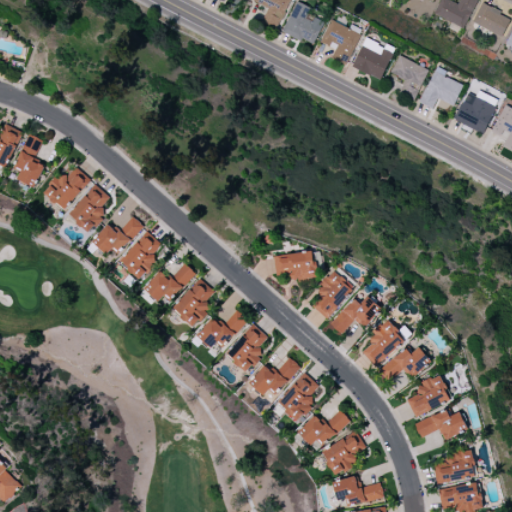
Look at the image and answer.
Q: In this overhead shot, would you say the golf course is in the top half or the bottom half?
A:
bottom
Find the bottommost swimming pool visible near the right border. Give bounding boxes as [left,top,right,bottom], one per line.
[487,480,500,504]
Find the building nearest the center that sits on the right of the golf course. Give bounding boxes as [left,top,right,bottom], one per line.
[275,252,318,280]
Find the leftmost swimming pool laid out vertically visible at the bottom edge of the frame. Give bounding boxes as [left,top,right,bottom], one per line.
[320,485,332,510]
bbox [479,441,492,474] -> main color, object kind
blue swimming pool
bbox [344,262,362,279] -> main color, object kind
blue swimming pool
